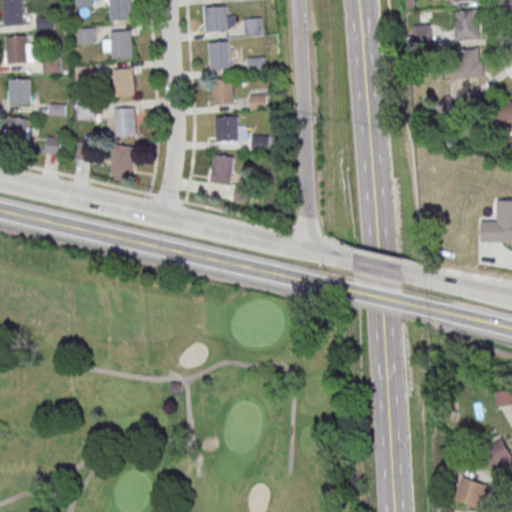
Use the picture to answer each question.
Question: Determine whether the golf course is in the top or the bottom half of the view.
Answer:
bottom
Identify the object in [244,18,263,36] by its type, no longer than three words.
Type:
building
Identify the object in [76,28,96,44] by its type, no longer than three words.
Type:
building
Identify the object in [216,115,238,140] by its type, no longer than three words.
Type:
house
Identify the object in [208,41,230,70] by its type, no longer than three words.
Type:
house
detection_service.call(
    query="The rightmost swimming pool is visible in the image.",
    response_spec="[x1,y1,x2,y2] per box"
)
[473,402,489,421]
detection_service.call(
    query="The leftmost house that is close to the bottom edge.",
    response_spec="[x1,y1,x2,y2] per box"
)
[456,477,486,508]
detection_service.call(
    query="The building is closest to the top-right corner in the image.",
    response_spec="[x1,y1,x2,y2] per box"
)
[455,10,480,40]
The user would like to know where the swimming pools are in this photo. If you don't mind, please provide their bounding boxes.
[473,402,489,421]
[78,6,93,20]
